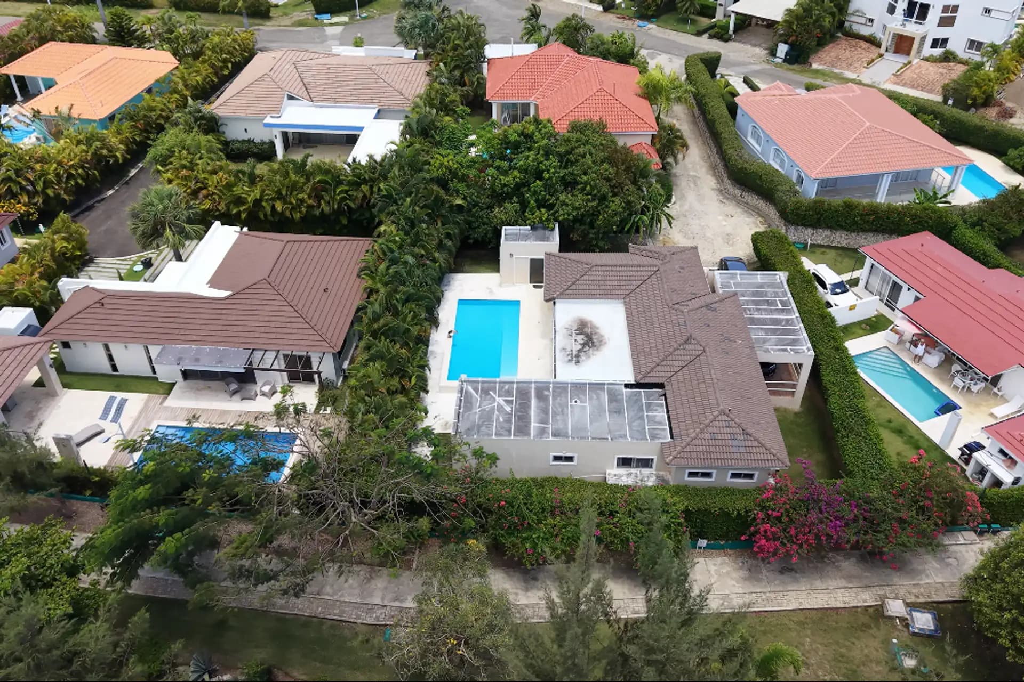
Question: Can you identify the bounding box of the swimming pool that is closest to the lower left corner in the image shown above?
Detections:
[143,421,306,488]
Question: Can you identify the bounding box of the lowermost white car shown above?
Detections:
[811,266,865,317]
